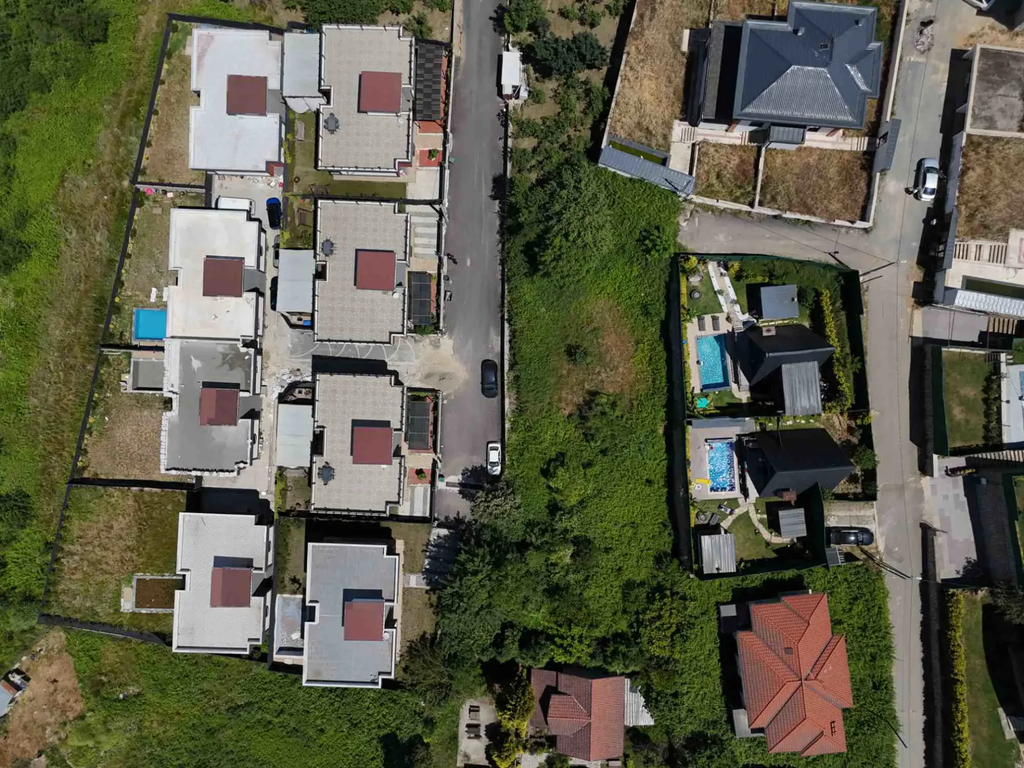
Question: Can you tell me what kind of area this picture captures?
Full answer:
This looks like a residential area.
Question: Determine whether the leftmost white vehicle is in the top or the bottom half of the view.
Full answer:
It is in the top half that the leftmost white vehicle appears.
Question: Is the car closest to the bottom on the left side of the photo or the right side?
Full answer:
The car closest to the bottom appears in the right half of the scene.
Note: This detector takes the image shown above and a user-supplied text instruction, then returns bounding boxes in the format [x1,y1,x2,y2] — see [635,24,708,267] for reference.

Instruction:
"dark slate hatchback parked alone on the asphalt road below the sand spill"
[480,360,499,397]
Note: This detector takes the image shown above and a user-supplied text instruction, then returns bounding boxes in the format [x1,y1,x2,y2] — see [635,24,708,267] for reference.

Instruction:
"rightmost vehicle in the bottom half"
[829,526,874,547]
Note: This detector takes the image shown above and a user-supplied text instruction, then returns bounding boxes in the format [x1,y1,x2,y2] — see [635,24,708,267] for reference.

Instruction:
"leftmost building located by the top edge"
[189,29,292,180]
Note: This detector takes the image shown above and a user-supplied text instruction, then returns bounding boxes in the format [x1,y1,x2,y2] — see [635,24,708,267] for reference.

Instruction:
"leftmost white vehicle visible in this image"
[213,195,256,215]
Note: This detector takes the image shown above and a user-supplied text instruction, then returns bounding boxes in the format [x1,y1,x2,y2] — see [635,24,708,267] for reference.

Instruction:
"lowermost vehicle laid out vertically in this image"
[486,440,503,476]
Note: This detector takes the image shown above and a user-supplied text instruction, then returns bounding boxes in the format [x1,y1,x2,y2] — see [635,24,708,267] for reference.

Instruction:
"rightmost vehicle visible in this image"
[910,160,944,202]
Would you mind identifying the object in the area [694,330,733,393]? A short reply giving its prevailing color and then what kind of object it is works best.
blue swimming pool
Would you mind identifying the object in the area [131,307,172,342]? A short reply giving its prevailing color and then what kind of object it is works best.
blue swimming pool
